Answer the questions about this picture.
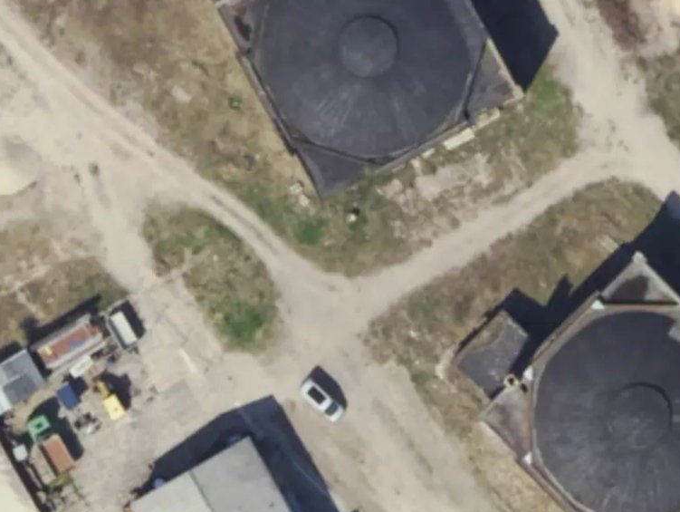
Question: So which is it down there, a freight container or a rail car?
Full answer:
I can see a freight container in this picture.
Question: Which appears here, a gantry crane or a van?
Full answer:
Looking from above, you can make out a van.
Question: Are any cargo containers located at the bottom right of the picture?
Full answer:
No, no cargo container appears at the bottom right of the picture.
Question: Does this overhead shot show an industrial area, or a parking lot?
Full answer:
The picture captures an industrial area.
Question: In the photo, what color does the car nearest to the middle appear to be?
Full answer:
The color of the car nearest to the middle is white.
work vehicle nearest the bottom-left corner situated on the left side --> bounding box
[95,377,126,420]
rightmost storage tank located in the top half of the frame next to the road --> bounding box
[217,0,516,201]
